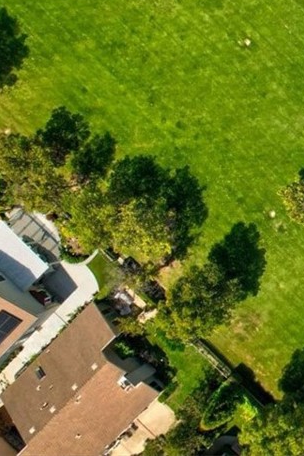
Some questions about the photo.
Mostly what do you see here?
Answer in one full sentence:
Most of the picture is covered by grass.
